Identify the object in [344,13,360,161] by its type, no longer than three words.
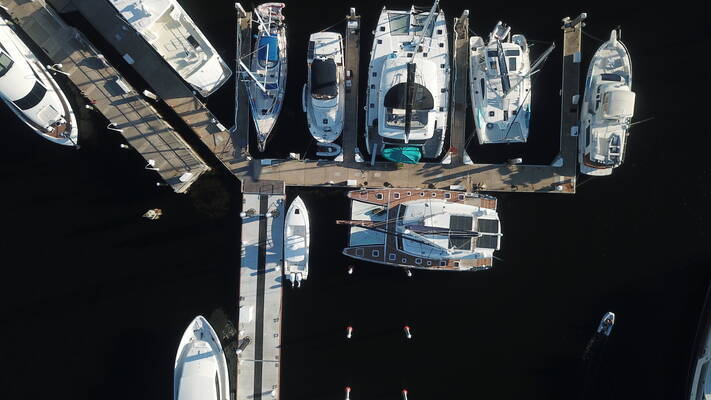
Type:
pier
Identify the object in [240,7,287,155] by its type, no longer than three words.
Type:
boat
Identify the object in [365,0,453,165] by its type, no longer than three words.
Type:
boat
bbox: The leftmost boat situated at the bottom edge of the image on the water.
[171,316,232,400]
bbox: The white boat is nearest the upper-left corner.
[0,12,86,148]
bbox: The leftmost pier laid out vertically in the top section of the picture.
[237,12,251,159]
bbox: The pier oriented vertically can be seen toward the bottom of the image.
[236,193,286,400]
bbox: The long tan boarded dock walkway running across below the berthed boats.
[240,159,576,192]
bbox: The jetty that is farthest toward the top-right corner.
[560,22,580,167]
